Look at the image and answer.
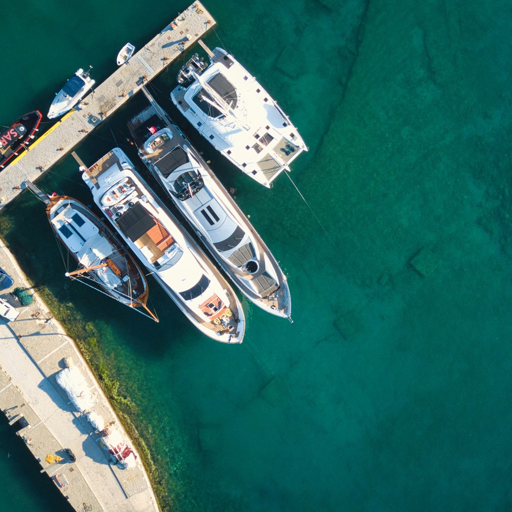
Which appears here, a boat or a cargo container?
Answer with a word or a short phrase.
boat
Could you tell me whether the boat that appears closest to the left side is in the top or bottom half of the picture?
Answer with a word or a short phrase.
top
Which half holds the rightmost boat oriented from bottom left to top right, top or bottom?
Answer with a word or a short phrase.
top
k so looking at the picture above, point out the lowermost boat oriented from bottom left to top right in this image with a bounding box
[102,174,139,205]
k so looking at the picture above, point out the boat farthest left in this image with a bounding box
[0,108,43,168]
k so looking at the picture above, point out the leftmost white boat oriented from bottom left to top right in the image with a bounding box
[46,65,97,119]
